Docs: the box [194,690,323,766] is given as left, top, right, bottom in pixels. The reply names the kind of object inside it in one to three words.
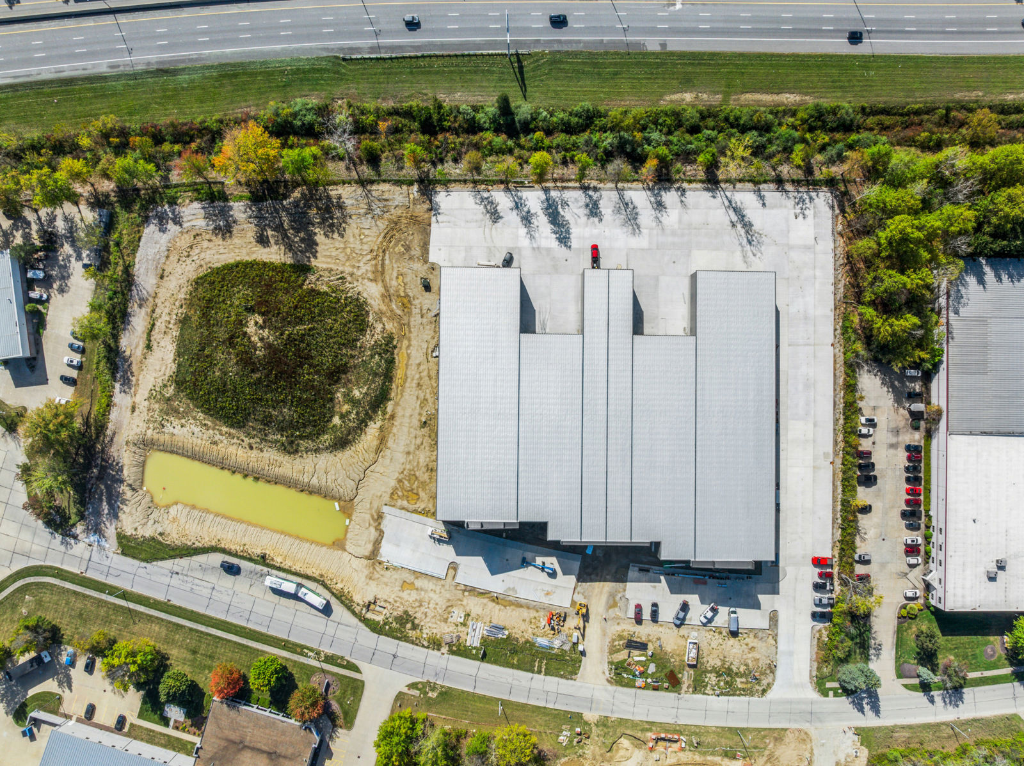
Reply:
building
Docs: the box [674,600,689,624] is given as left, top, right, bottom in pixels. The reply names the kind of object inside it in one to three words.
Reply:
vehicle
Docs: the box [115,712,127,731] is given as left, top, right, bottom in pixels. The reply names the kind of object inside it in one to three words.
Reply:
vehicle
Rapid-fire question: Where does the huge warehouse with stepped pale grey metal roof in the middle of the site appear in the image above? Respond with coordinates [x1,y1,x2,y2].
[436,267,776,571]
